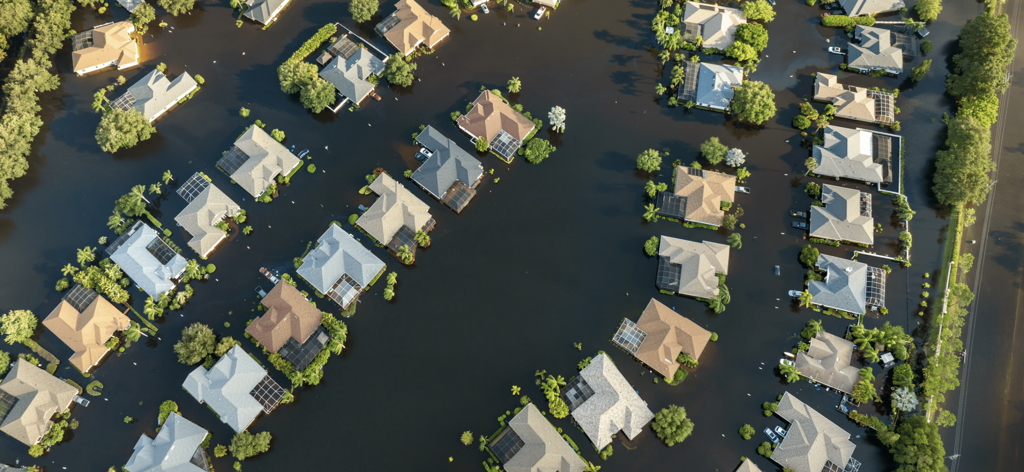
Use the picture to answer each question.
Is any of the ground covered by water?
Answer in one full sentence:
Yes, water can be seen from above here.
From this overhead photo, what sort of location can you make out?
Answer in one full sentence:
The area seen from above is a residential area.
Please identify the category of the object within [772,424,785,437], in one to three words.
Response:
vehicle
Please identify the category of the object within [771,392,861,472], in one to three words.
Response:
house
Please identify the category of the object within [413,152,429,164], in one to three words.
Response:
vehicle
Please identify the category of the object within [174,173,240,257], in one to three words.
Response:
house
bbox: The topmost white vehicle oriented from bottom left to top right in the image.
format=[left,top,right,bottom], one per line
[533,5,547,20]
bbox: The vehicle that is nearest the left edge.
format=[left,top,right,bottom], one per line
[74,396,91,409]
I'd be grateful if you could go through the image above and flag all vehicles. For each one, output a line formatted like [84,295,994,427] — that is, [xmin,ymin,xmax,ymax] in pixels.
[257,265,273,281]
[818,11,832,18]
[788,210,808,219]
[779,359,796,365]
[253,284,268,298]
[420,147,434,159]
[297,147,310,159]
[790,221,809,230]
[413,152,429,164]
[772,424,785,437]
[74,396,91,409]
[827,47,847,57]
[270,274,280,284]
[735,185,753,194]
[533,5,547,20]
[787,290,804,297]
[357,203,369,214]
[763,428,780,445]
[481,4,489,15]
[370,92,382,102]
